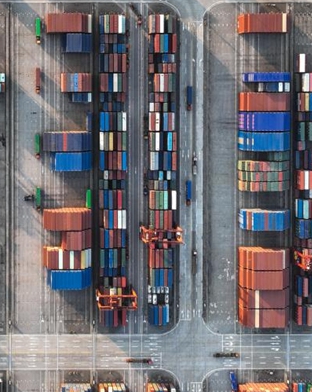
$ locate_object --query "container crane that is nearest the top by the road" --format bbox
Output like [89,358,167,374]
[138,220,185,244]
